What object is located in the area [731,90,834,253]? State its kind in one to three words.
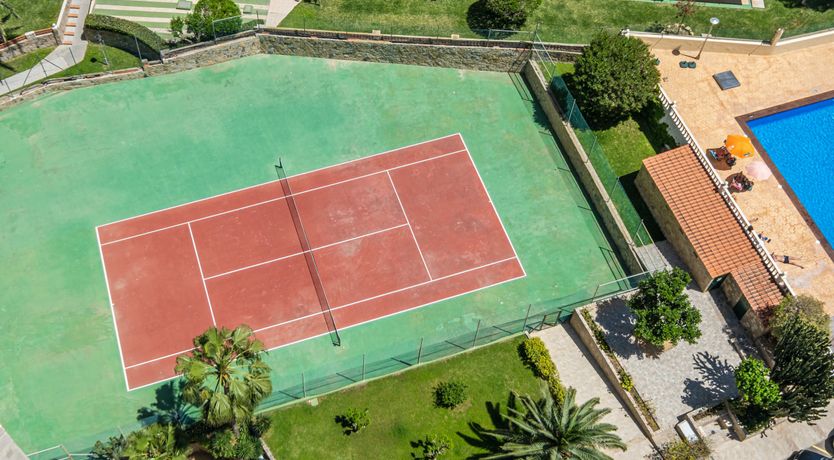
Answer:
swimming pool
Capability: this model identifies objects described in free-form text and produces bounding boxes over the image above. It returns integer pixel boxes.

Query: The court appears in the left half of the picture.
[0,53,635,460]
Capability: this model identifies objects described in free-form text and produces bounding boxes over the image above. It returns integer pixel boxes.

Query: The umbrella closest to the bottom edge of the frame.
[745,156,775,182]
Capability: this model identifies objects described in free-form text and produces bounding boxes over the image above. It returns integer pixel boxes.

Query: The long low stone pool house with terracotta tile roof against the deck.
[637,145,786,329]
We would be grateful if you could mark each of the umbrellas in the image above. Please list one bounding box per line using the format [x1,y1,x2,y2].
[725,134,756,164]
[745,156,775,182]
